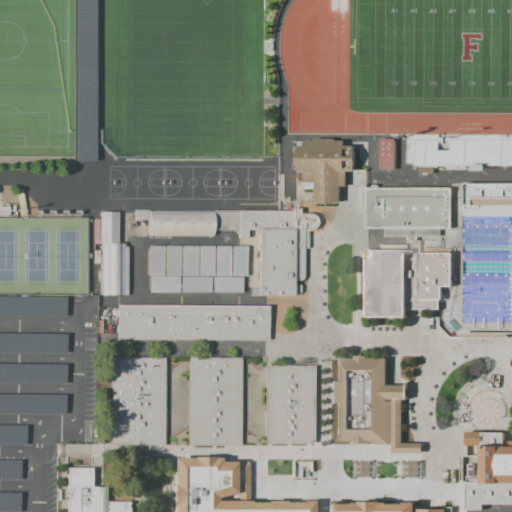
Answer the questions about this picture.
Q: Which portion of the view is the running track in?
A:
top right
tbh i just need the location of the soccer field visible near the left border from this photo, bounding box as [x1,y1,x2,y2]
[0,0,76,156]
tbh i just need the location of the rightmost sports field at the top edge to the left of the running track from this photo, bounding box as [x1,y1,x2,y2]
[103,0,266,158]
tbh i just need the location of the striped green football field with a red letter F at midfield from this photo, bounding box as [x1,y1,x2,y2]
[350,0,512,112]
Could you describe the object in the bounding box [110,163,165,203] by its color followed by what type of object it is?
gray basketball court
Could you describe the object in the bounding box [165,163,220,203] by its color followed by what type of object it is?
gray basketball court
